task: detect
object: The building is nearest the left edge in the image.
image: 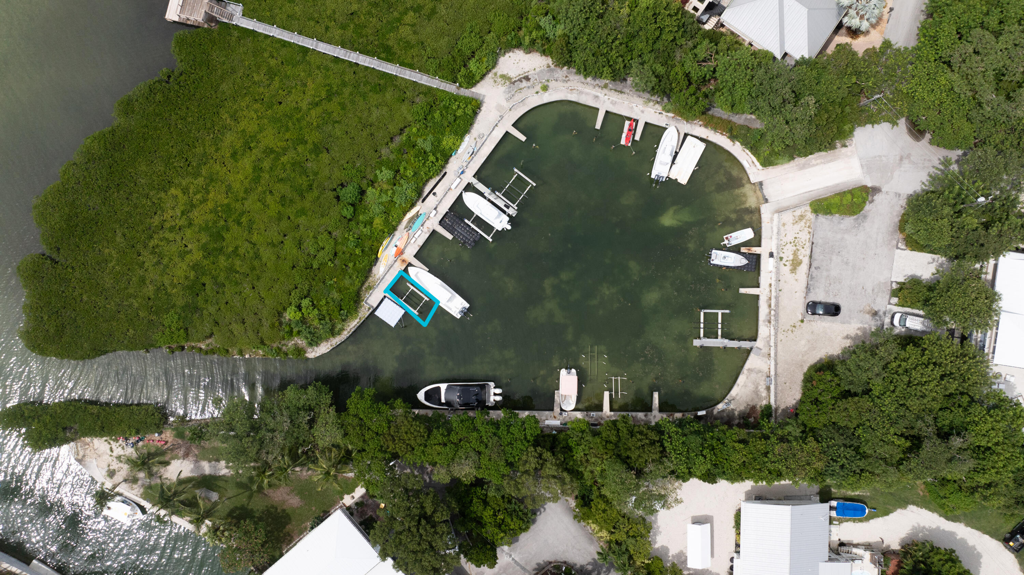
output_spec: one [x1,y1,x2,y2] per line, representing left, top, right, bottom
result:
[260,505,402,575]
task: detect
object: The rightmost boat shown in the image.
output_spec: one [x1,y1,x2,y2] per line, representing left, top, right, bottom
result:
[829,498,875,519]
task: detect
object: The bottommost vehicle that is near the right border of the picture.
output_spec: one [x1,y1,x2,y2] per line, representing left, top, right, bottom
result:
[1001,511,1024,555]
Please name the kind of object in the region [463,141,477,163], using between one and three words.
boat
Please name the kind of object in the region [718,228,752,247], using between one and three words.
boat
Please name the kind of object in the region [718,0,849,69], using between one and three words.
house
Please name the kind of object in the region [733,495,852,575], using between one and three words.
house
